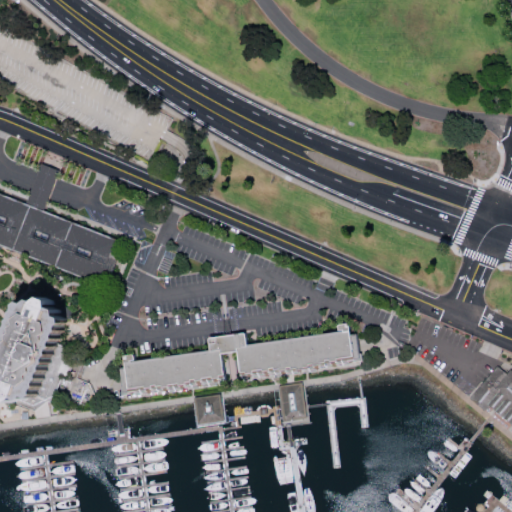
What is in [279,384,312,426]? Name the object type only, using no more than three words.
building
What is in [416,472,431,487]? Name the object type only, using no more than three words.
boat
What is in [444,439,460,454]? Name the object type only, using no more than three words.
boat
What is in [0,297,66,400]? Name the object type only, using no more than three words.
building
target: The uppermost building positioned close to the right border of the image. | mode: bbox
[470,366,512,436]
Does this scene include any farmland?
No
